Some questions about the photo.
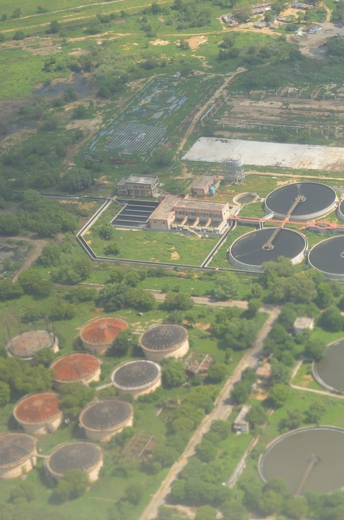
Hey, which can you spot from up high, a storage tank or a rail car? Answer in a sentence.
It is a storage tank that can be seen here.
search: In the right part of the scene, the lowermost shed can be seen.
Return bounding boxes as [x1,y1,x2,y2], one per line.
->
[235,406,257,432]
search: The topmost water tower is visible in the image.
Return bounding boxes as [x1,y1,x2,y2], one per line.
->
[220,153,245,187]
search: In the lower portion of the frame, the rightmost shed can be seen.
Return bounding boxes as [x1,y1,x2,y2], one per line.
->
[294,317,316,335]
